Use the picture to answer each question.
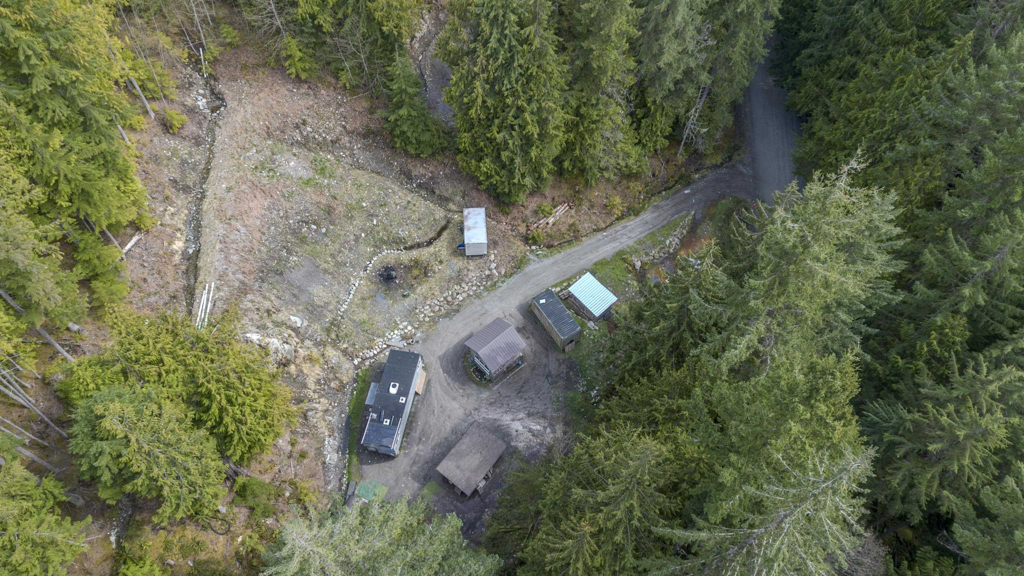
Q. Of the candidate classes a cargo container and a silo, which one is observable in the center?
cargo container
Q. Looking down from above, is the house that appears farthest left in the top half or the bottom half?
bottom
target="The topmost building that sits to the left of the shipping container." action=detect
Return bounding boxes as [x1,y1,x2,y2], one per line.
[466,318,527,378]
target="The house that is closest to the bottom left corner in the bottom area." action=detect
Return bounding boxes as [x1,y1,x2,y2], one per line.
[360,350,422,456]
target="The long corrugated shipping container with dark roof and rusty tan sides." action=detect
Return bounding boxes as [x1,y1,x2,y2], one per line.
[533,291,580,347]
